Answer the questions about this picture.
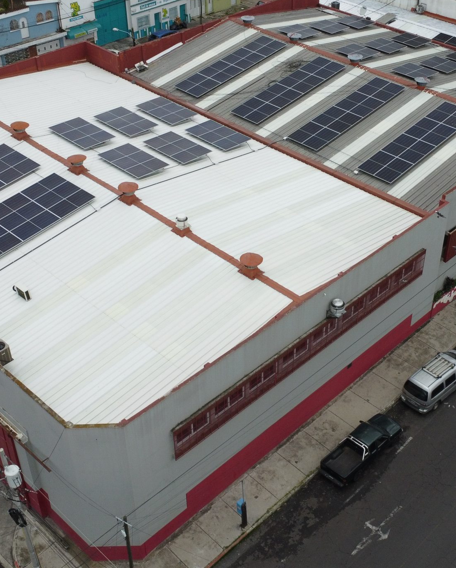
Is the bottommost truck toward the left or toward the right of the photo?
right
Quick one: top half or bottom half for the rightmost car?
bottom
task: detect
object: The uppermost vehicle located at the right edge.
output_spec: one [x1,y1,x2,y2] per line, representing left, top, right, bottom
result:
[400,349,456,416]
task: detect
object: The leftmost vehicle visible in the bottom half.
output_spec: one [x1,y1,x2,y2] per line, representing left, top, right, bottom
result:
[315,411,406,495]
